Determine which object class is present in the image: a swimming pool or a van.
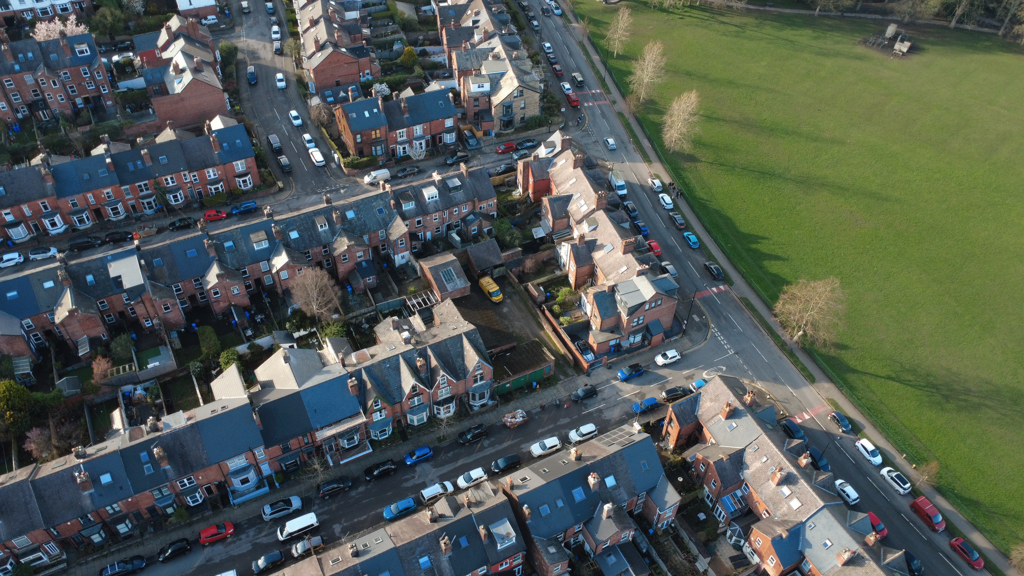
van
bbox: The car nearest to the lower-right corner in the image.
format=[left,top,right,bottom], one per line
[949,536,984,571]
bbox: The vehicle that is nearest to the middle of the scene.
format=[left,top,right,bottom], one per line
[479,275,502,305]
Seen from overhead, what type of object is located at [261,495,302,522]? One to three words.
car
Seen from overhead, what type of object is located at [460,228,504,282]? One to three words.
building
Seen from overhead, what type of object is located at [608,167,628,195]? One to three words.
vehicle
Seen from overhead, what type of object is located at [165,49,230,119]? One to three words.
house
